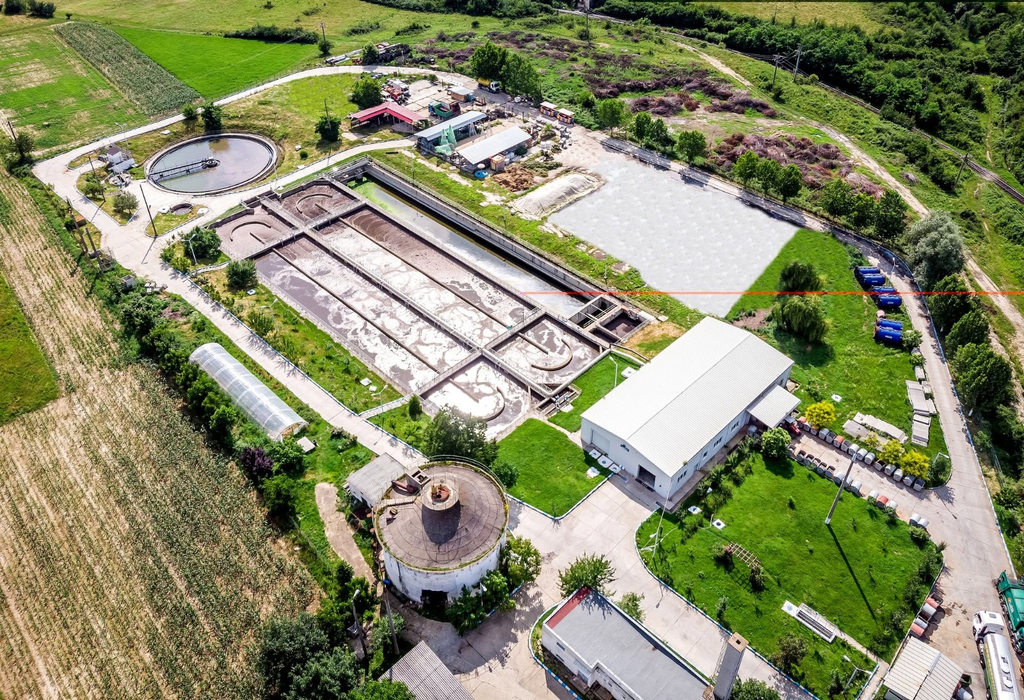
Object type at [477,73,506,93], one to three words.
vehicle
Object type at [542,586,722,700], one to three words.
building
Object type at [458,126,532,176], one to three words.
shed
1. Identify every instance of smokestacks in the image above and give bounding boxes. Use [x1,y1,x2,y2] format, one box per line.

[709,633,751,700]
